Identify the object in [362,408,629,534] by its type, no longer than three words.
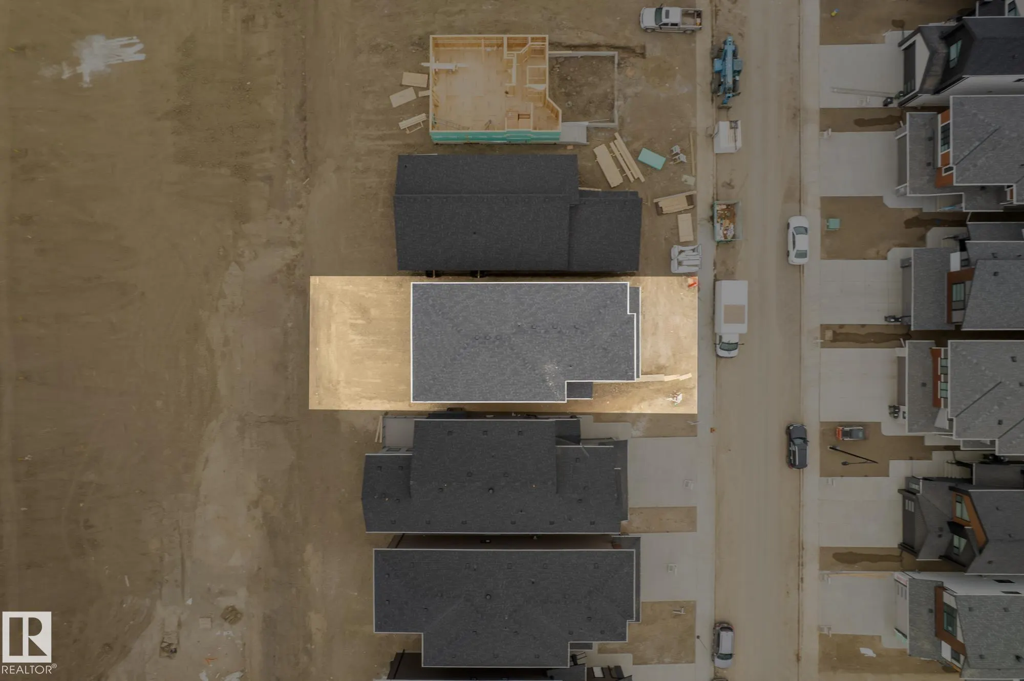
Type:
house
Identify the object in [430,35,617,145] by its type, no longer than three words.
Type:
house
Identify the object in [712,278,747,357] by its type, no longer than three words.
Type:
truck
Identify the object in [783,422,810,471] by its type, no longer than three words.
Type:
car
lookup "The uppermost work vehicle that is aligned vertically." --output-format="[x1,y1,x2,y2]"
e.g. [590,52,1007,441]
[709,37,744,122]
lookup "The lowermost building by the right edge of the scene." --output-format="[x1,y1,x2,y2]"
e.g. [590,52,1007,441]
[894,573,1024,681]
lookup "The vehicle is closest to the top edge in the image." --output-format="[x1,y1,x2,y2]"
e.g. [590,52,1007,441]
[638,2,703,35]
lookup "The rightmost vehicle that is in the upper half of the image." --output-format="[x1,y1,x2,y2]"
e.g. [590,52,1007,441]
[785,216,810,265]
